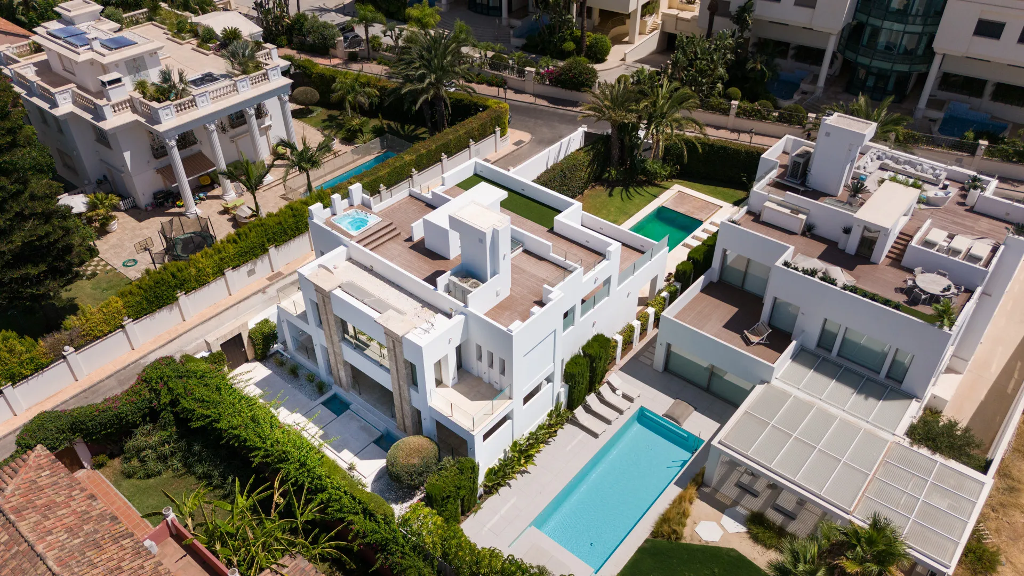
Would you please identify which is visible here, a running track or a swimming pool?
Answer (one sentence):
There is a swimming pool in the scene.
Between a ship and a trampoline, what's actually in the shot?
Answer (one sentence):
Looking from above, you can make out a trampoline.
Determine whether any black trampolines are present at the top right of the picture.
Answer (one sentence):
No, there's no black trampoline to be seen at the top right of the picture.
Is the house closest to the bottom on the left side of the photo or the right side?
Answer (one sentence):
It is on the left.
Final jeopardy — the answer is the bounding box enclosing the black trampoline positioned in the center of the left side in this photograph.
[158,208,218,260]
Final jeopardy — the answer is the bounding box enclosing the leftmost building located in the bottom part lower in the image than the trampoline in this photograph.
[0,437,228,576]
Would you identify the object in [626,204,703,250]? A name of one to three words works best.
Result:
swimming pool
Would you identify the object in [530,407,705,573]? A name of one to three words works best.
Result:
swimming pool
